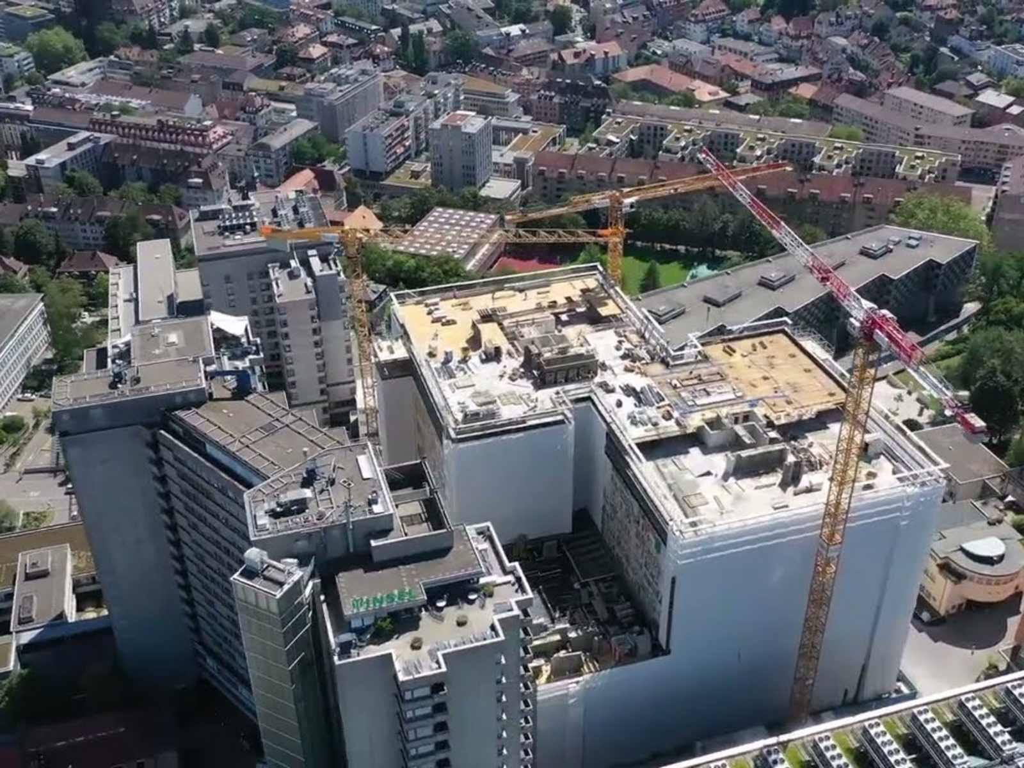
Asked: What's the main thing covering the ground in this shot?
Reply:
buildings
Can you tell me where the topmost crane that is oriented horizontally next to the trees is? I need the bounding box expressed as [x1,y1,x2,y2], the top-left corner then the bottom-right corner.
[505,160,793,301]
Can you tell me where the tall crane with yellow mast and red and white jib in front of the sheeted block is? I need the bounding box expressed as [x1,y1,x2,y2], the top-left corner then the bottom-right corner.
[693,147,984,736]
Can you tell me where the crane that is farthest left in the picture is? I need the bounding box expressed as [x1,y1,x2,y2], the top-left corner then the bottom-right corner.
[256,230,631,477]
